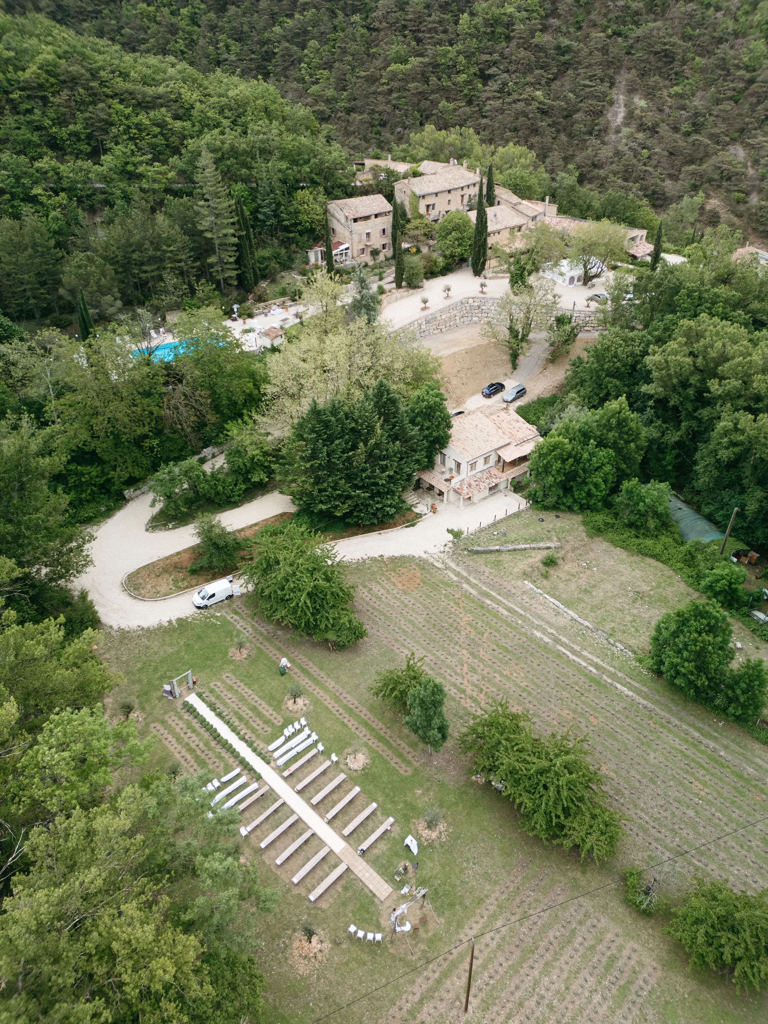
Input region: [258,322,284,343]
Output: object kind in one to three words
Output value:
shed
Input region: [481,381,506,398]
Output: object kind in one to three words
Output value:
car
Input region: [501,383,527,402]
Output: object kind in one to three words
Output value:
car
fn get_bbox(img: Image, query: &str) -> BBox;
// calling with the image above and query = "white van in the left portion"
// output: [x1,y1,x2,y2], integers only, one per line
[191,571,242,609]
